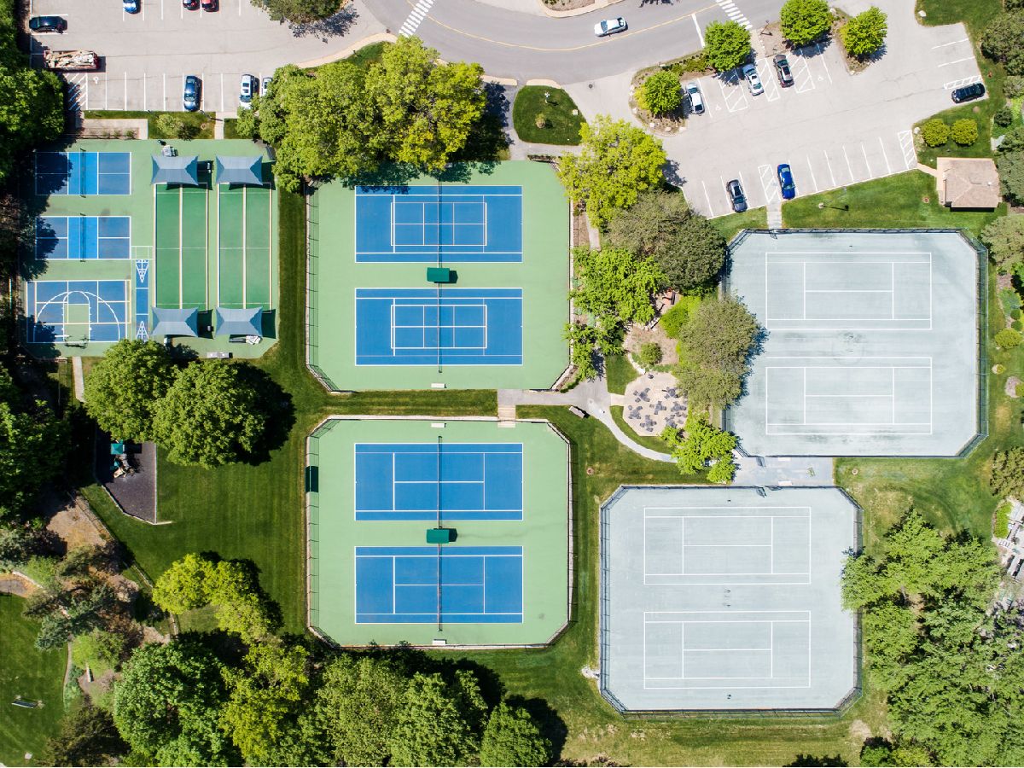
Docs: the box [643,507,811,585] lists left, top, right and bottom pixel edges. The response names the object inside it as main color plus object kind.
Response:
white tennis court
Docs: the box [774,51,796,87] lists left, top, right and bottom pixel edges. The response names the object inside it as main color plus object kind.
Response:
gray car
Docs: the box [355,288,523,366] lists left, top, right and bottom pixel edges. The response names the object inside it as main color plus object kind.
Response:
blue tennis court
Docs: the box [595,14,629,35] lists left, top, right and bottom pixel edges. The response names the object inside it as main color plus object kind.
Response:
white car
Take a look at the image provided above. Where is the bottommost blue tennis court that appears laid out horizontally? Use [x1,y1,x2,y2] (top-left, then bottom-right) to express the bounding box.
[355,546,523,624]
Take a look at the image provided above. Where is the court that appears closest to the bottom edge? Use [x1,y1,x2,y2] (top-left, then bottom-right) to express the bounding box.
[643,611,811,689]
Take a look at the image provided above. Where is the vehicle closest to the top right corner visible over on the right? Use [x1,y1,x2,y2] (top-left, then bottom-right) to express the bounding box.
[952,80,990,101]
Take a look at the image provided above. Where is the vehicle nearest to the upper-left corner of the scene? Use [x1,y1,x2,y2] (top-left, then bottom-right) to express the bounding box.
[27,13,65,31]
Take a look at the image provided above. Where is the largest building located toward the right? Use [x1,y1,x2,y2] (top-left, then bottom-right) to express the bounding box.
[937,160,1000,209]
